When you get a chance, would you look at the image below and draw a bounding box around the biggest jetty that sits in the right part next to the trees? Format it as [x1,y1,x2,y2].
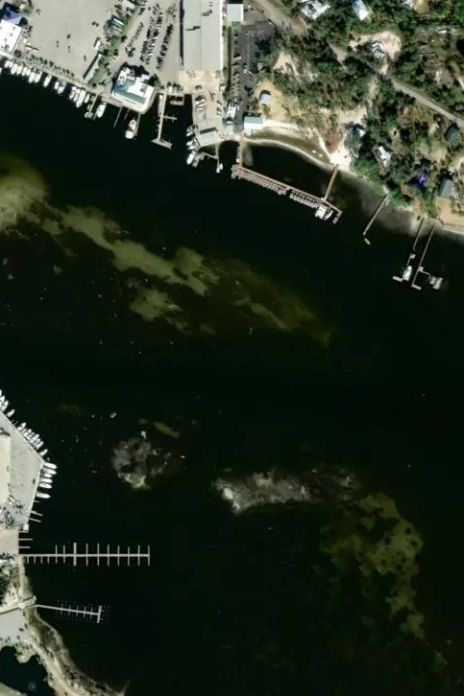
[232,136,342,223]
